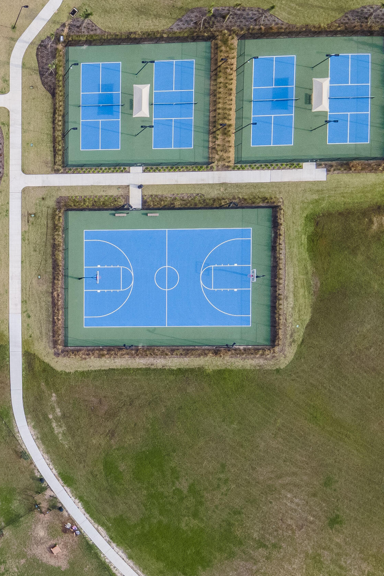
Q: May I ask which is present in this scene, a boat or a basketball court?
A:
basketball court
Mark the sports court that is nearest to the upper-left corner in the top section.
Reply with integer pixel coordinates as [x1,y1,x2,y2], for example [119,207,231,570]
[64,41,212,168]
